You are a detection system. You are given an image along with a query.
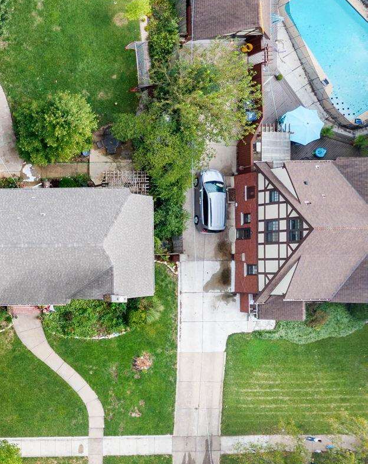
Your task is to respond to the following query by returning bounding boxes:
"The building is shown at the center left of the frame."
[0,189,153,315]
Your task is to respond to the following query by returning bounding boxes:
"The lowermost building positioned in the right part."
[225,157,368,320]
